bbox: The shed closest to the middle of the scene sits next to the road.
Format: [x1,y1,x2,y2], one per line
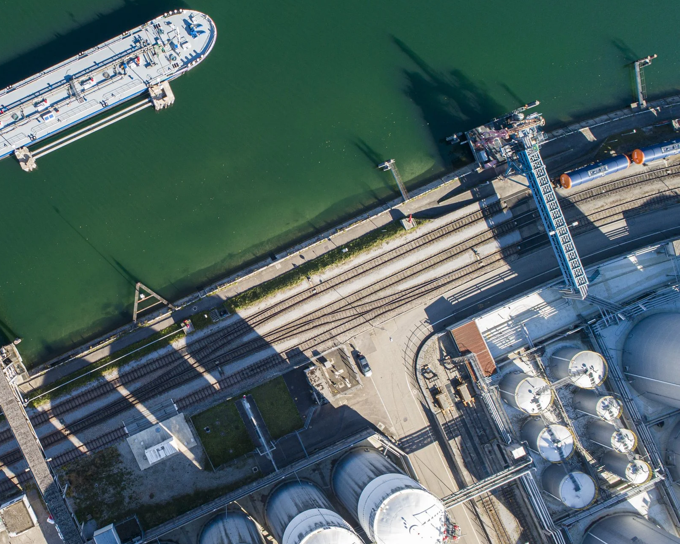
[303,363,335,407]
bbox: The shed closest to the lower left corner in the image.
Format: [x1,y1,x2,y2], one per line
[0,495,37,538]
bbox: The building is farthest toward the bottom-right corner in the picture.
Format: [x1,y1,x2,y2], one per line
[499,440,540,469]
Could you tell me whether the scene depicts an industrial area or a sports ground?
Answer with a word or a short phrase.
industrial area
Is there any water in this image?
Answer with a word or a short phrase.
Yes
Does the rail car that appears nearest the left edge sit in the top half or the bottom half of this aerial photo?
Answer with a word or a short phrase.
top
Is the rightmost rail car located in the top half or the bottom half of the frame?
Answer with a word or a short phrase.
top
